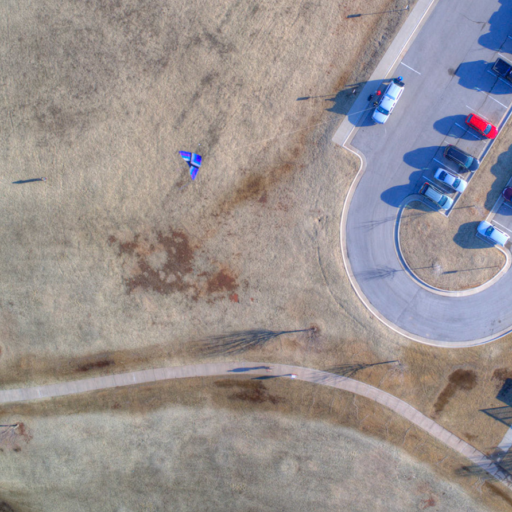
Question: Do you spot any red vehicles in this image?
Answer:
Yes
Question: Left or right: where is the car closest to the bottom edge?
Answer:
right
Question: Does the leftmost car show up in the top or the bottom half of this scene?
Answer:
top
